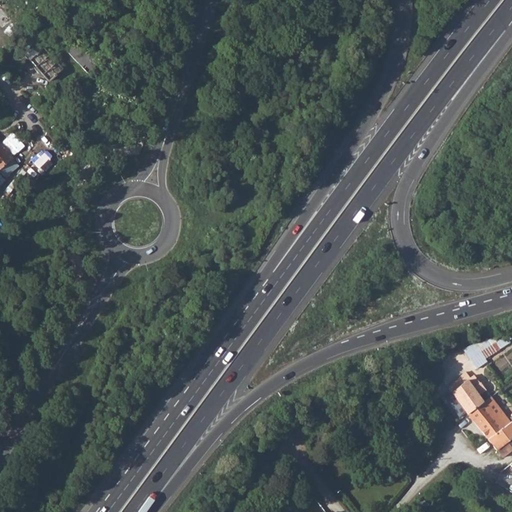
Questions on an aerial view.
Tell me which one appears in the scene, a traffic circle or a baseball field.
traffic circle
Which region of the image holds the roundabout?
left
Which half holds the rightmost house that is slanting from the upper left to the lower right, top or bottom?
bottom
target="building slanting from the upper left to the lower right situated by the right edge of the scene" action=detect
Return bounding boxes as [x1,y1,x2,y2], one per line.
[454,371,512,459]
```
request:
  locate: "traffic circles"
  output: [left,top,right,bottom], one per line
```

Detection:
[94,140,181,276]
